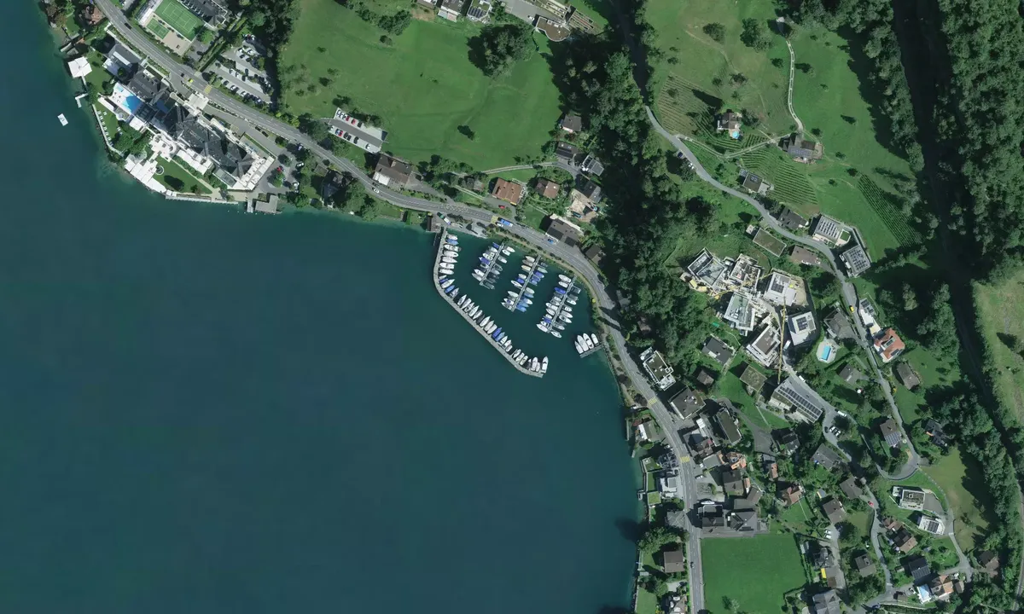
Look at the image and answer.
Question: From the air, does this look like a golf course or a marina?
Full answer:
This looks like a marina.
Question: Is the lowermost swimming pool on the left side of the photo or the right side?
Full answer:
The lowermost swimming pool sits on the right side.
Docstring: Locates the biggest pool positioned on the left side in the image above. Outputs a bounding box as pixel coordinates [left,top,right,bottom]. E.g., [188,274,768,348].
[122,94,144,113]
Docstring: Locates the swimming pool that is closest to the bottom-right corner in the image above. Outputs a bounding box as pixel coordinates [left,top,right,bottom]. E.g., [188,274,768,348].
[816,340,837,363]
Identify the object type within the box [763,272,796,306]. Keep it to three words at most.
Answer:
building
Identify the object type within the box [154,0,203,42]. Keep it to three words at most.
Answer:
tennis court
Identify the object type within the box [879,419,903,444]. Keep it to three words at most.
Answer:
house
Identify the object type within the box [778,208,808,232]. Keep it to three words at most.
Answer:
house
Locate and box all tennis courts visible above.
[147,18,169,39]
[154,0,203,42]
